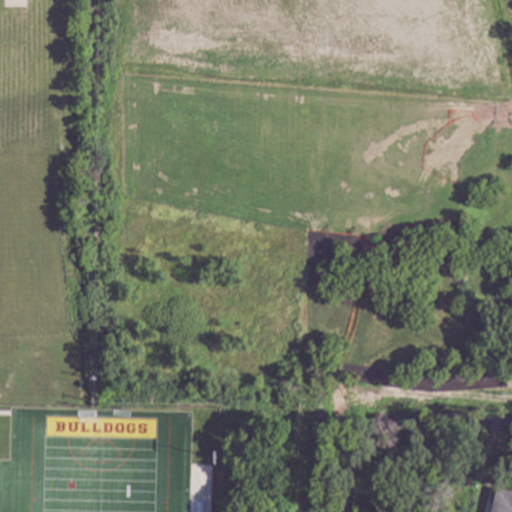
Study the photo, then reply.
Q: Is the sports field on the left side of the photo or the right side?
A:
left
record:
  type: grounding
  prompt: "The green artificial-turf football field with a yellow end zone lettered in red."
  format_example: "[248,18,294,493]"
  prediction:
[0,406,192,512]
